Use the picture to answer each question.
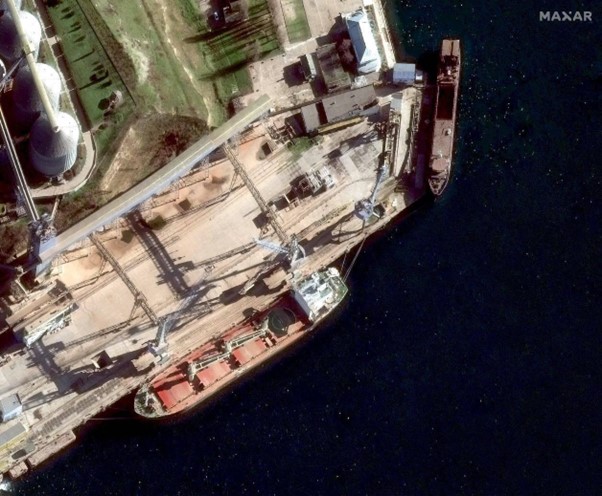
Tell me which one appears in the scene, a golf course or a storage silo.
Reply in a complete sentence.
I can see a storage silo in this picture.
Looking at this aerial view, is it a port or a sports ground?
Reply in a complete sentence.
The picture captures a port.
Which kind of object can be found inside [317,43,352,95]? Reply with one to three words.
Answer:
shed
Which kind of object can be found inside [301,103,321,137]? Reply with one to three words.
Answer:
building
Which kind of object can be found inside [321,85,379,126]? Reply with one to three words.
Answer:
building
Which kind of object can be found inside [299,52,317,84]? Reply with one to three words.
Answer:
house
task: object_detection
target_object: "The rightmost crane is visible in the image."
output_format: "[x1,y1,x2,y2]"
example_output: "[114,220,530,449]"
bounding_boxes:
[356,159,387,222]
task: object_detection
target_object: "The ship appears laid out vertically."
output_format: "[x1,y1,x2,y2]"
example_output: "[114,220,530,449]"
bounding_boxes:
[429,41,461,197]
